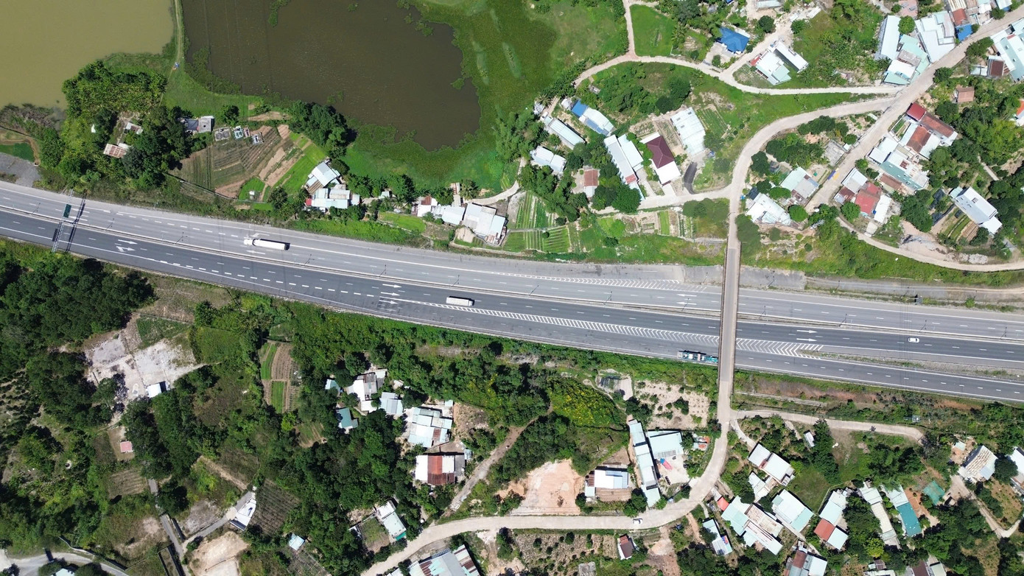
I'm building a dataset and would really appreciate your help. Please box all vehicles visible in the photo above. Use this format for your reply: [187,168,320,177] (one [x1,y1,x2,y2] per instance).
[659,458,673,471]
[446,297,473,308]
[632,518,643,524]
[678,352,718,363]
[907,337,919,343]
[244,239,287,252]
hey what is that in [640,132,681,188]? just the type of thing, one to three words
house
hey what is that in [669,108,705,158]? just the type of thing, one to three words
building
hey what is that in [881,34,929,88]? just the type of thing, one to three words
house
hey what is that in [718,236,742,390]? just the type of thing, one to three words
bridge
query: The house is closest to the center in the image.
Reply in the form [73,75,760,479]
[463,203,506,246]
